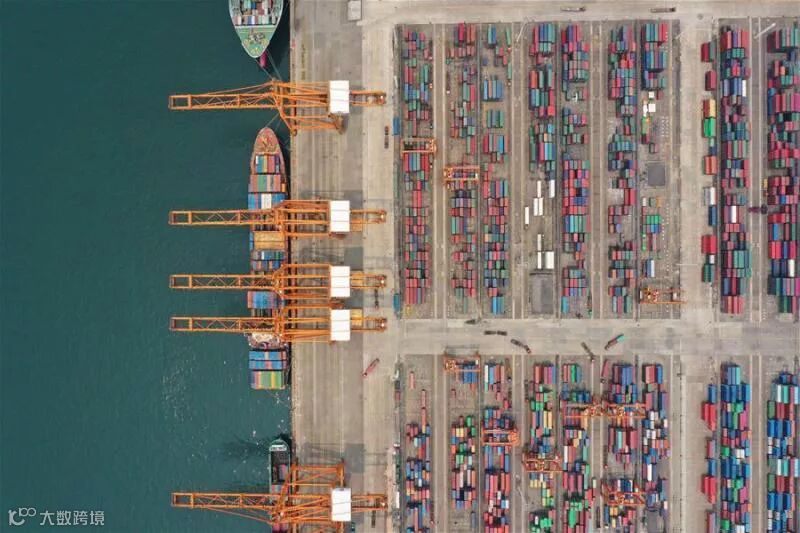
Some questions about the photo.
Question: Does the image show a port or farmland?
port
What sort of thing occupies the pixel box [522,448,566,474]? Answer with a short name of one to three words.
container crane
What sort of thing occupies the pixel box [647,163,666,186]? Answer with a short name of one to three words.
shed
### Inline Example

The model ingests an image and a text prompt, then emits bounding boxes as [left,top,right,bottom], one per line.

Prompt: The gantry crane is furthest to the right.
[638,285,695,304]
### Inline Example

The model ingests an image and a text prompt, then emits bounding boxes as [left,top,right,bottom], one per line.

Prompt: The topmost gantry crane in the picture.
[168,72,385,134]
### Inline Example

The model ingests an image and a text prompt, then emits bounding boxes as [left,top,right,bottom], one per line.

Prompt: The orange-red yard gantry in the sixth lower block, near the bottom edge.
[601,479,648,507]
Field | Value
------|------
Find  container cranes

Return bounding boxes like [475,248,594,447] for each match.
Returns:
[168,258,385,300]
[168,72,385,134]
[168,299,385,345]
[601,479,648,507]
[443,352,482,372]
[168,191,385,237]
[443,166,482,186]
[638,285,695,304]
[480,421,520,445]
[601,396,647,418]
[400,138,438,159]
[522,448,566,474]
[560,396,603,418]
[168,460,385,533]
